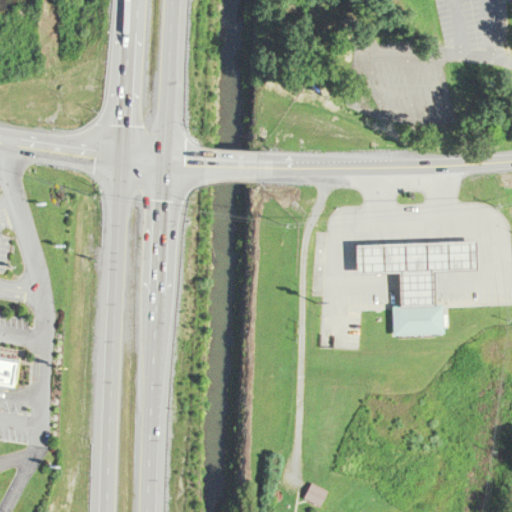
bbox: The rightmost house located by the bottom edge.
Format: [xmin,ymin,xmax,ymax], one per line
[304,484,328,507]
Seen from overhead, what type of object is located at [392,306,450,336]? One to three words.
building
